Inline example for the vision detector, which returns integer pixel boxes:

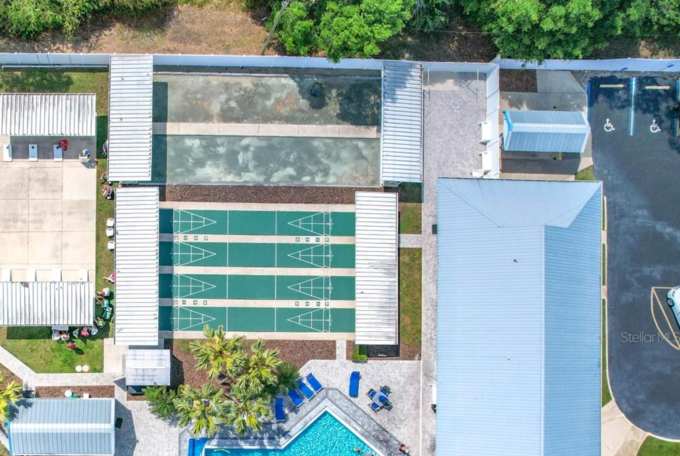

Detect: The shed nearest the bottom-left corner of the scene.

[6,397,116,456]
